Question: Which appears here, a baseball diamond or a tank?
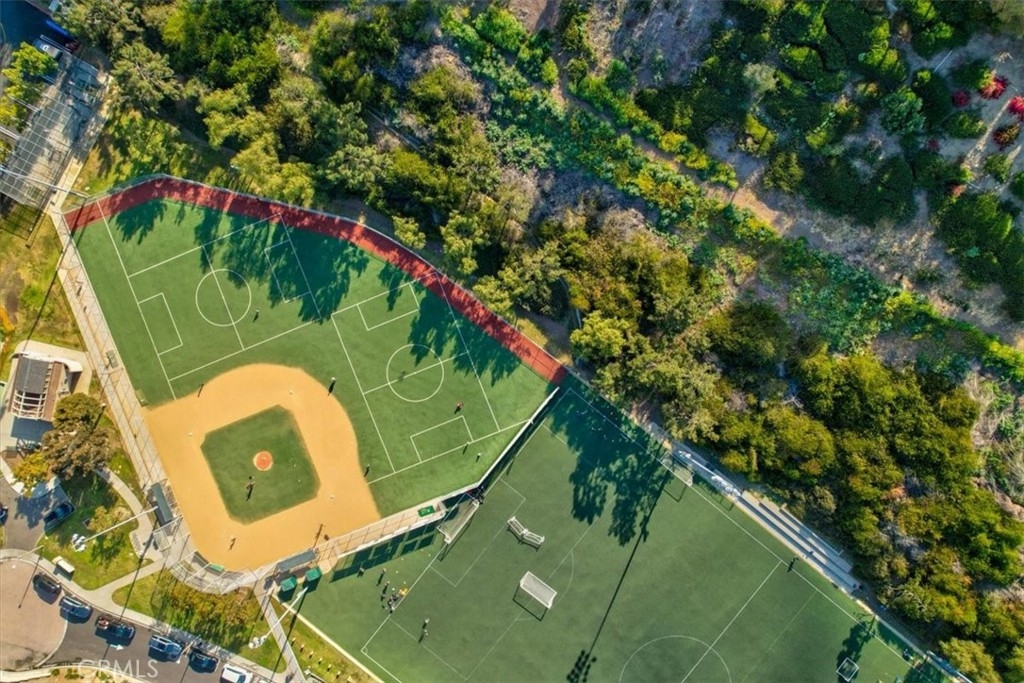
baseball diamond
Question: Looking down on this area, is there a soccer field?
Yes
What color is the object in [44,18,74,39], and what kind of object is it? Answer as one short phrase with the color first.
blue car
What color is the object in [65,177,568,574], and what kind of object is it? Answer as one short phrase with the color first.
green baseball field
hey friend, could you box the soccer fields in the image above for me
[275,374,954,683]
[129,214,321,381]
[331,272,499,472]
